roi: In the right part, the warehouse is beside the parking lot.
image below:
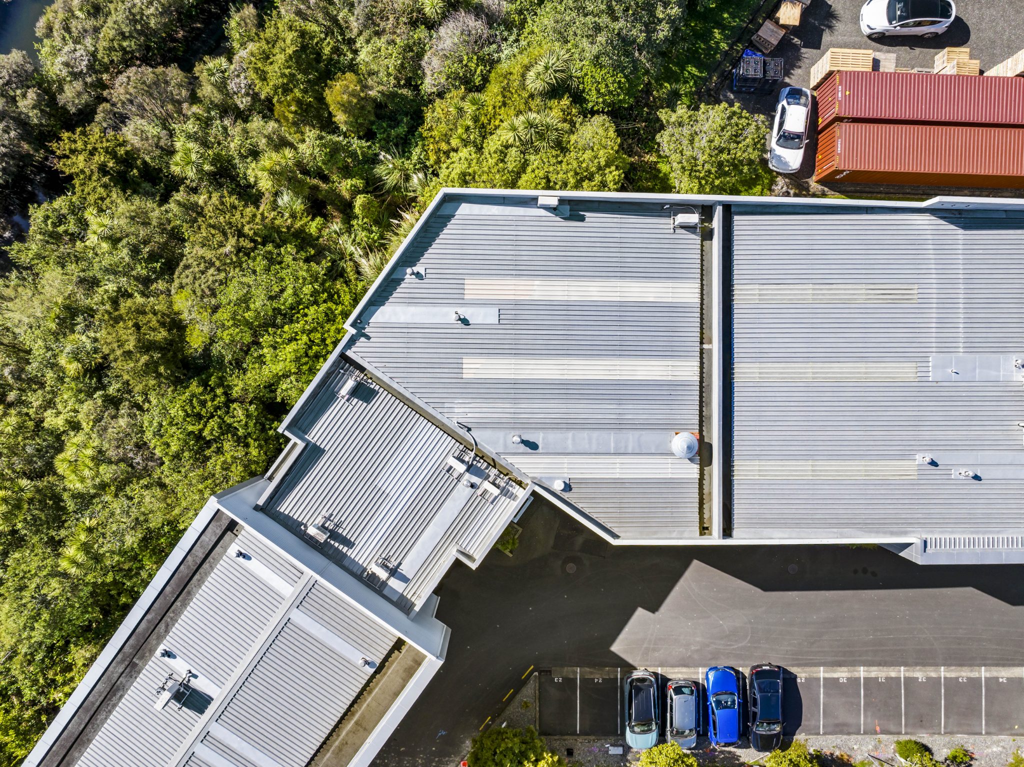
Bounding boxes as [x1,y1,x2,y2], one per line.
[344,188,1024,565]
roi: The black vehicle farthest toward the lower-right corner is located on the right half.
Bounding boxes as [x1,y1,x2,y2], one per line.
[746,661,789,749]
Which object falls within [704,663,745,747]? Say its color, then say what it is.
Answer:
blue car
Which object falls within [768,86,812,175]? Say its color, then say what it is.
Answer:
white car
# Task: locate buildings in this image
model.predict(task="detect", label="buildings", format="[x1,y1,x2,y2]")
[21,477,460,767]
[344,188,1024,565]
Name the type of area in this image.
industrial area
